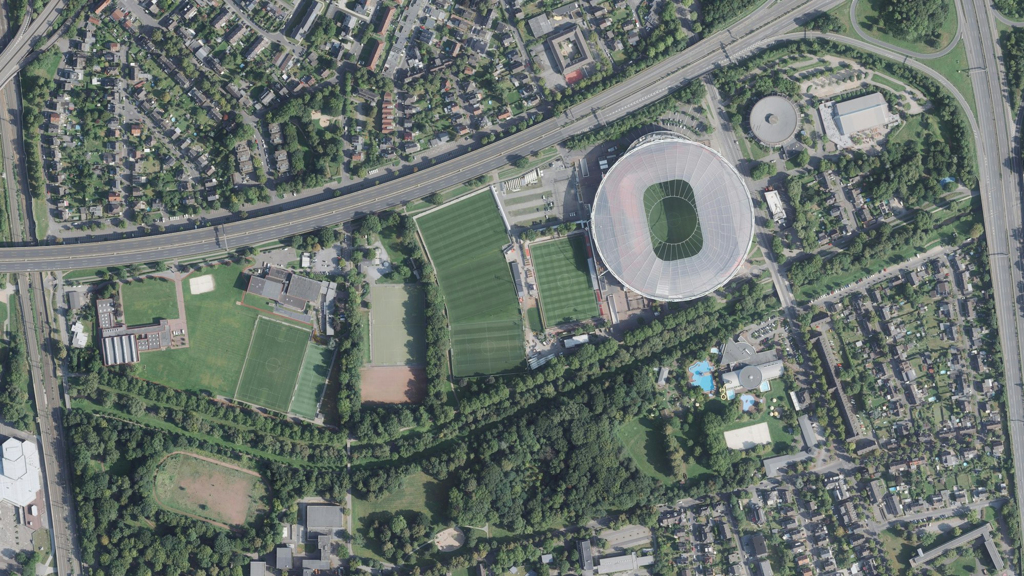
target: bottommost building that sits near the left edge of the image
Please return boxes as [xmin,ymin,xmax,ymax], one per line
[32,528,51,564]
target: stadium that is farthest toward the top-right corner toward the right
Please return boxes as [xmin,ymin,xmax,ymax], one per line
[592,138,756,302]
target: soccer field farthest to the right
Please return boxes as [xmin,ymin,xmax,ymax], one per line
[645,179,705,261]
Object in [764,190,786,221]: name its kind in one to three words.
building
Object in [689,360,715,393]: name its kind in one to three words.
swimming pool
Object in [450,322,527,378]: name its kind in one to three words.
soccer field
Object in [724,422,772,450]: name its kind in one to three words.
sports court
